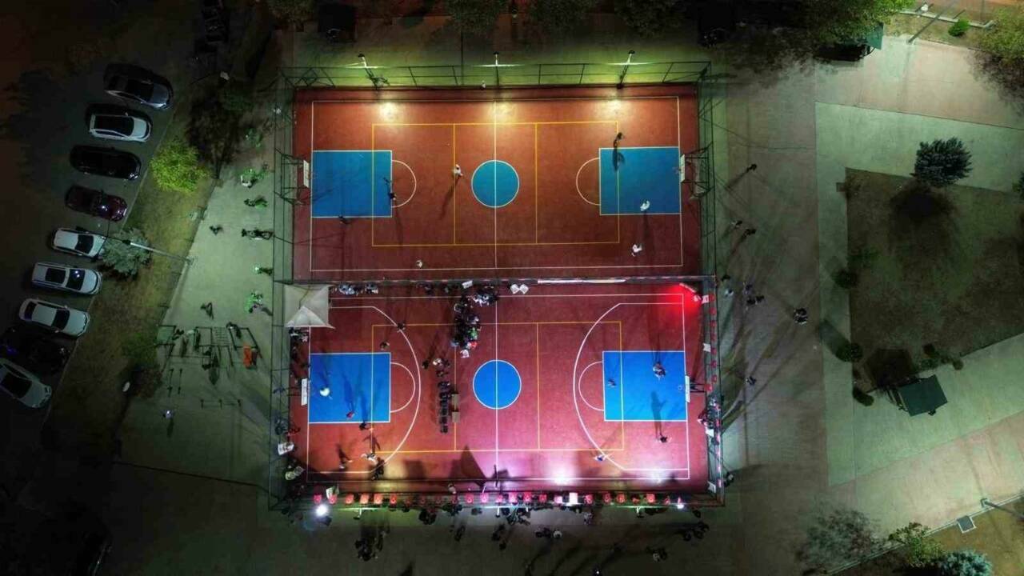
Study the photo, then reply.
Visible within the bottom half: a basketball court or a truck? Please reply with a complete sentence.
The one visible within the bottom half is a basketball court.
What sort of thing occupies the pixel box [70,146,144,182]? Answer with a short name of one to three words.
car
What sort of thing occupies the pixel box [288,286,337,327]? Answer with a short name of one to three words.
tent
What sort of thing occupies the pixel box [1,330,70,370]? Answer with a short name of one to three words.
car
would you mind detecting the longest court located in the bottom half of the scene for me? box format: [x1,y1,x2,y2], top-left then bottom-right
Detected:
[290,282,707,495]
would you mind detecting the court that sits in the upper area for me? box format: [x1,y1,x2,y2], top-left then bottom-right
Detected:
[293,83,701,282]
